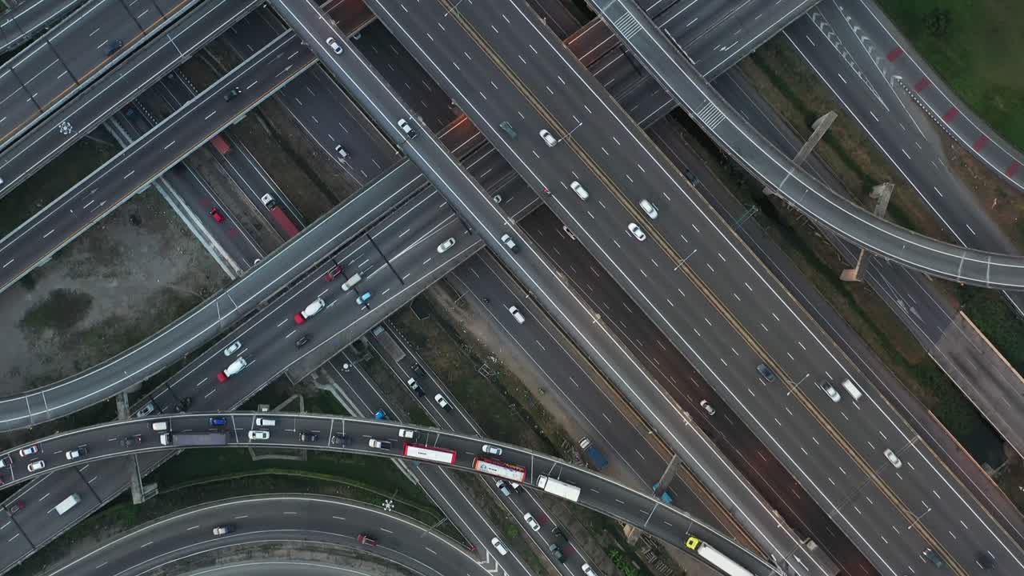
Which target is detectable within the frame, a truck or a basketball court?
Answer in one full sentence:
The image shows a truck.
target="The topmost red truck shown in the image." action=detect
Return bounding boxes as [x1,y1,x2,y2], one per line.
[212,134,235,157]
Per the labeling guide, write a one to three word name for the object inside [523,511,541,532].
car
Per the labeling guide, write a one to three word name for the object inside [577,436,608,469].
truck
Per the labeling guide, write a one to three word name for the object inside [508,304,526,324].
car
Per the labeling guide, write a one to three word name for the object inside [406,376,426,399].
vehicle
